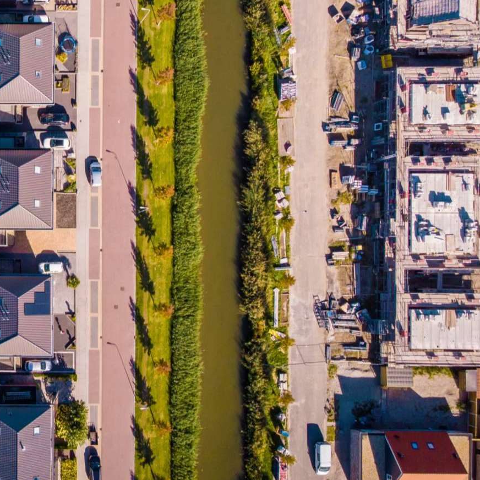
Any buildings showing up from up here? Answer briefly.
Yes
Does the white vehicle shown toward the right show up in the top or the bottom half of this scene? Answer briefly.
bottom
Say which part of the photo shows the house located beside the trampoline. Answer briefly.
top left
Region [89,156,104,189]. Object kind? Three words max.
car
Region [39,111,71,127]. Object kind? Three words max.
car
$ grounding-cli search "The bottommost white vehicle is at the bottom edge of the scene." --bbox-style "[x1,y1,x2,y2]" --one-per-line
[316,443,337,479]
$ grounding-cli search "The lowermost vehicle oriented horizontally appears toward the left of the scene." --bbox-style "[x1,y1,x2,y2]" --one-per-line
[23,360,55,375]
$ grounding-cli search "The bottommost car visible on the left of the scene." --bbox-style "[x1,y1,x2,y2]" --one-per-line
[88,454,103,480]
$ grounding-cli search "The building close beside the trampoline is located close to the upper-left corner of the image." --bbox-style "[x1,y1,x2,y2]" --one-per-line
[0,22,55,109]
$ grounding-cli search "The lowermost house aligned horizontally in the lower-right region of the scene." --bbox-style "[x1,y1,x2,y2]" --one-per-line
[349,426,476,480]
